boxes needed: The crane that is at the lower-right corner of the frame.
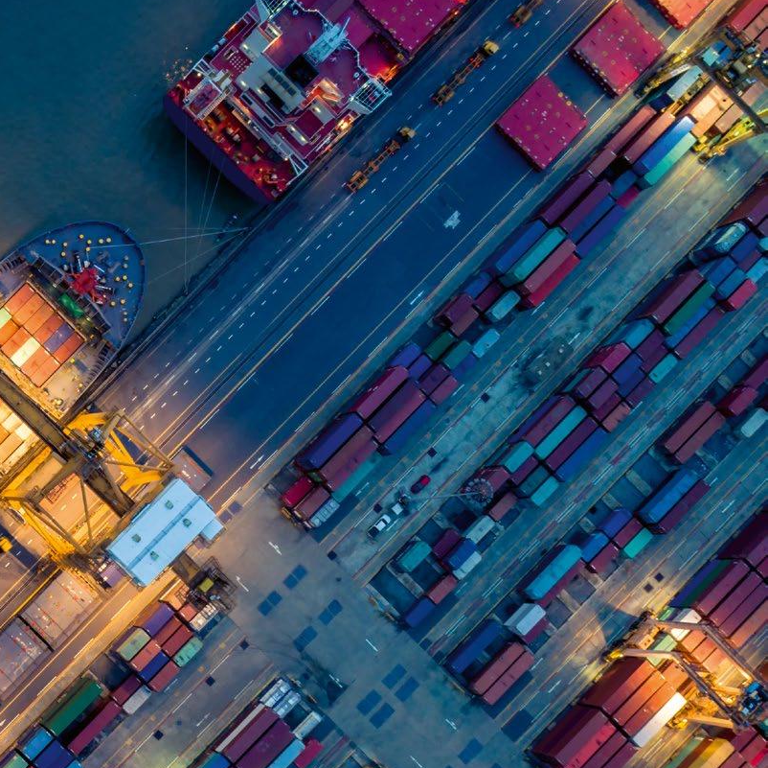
[602,605,768,745]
